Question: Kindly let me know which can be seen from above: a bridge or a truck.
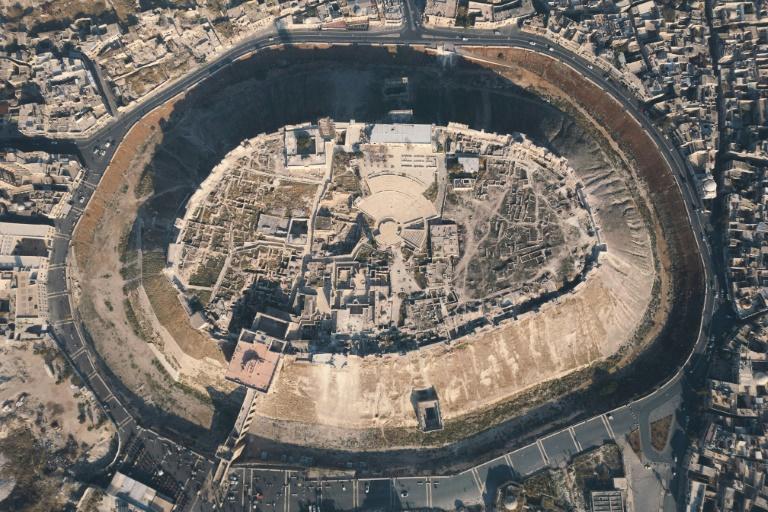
bridge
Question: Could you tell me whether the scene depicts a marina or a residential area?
residential area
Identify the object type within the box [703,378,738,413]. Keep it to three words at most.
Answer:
house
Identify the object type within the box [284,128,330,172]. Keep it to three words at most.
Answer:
building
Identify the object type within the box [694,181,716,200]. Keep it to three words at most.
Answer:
building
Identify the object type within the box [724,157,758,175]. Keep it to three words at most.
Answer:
house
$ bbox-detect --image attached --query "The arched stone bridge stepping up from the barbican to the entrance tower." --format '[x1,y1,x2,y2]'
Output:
[219,386,260,444]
